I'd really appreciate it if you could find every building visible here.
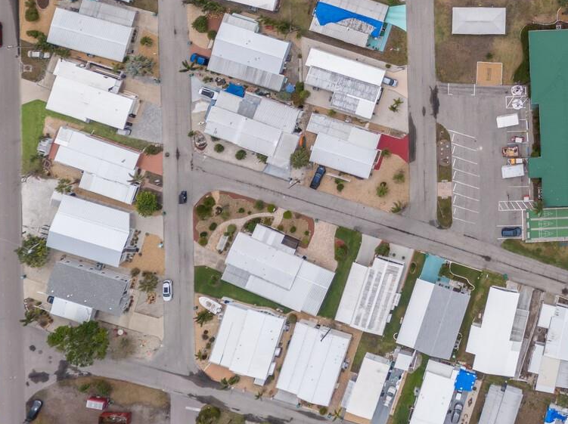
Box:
[396,278,470,359]
[276,320,353,406]
[481,380,523,424]
[205,83,303,169]
[528,30,568,208]
[209,296,287,386]
[46,257,137,322]
[54,126,145,204]
[305,48,386,119]
[528,302,568,393]
[341,351,412,419]
[307,113,383,178]
[335,255,405,335]
[410,358,476,424]
[47,194,136,267]
[544,404,568,424]
[222,222,337,315]
[466,285,529,377]
[47,0,138,61]
[208,14,293,91]
[309,0,390,47]
[46,59,139,129]
[452,7,505,34]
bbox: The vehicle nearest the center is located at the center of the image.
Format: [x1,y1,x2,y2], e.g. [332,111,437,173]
[308,165,325,190]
